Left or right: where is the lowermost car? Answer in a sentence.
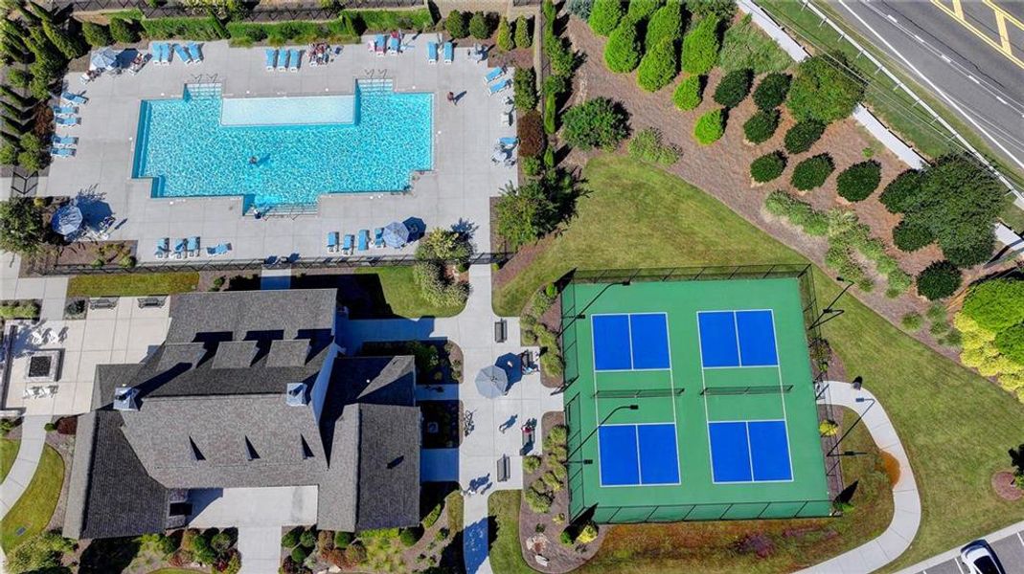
The lowermost car appears in the right half of the scene.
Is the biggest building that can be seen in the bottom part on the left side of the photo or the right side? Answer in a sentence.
The biggest building that can be seen in the bottom part appears in the left half of the scene.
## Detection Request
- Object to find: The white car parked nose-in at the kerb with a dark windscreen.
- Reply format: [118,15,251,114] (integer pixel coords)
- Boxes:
[965,545,1006,574]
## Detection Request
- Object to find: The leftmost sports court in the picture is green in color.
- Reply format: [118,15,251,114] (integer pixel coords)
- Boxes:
[560,280,701,522]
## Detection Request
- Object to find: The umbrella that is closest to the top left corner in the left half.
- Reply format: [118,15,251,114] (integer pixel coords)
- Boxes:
[94,48,122,75]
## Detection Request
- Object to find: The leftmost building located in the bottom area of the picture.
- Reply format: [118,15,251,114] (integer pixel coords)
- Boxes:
[62,289,421,543]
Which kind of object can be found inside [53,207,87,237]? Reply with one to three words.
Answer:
umbrella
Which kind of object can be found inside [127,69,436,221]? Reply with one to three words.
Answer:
swimming pool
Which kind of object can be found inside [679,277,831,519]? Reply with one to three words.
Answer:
sports court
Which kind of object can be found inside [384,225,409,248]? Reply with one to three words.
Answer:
umbrella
